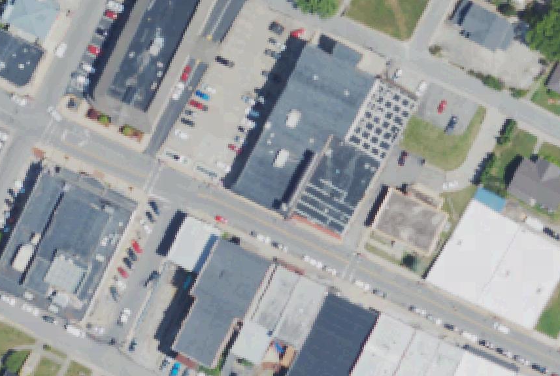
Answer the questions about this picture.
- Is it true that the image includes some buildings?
Yes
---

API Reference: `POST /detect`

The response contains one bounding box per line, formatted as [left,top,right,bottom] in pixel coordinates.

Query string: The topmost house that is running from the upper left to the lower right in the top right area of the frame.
[450,0,527,53]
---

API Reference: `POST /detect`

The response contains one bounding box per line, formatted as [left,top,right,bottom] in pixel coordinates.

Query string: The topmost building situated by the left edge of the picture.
[1,0,60,43]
